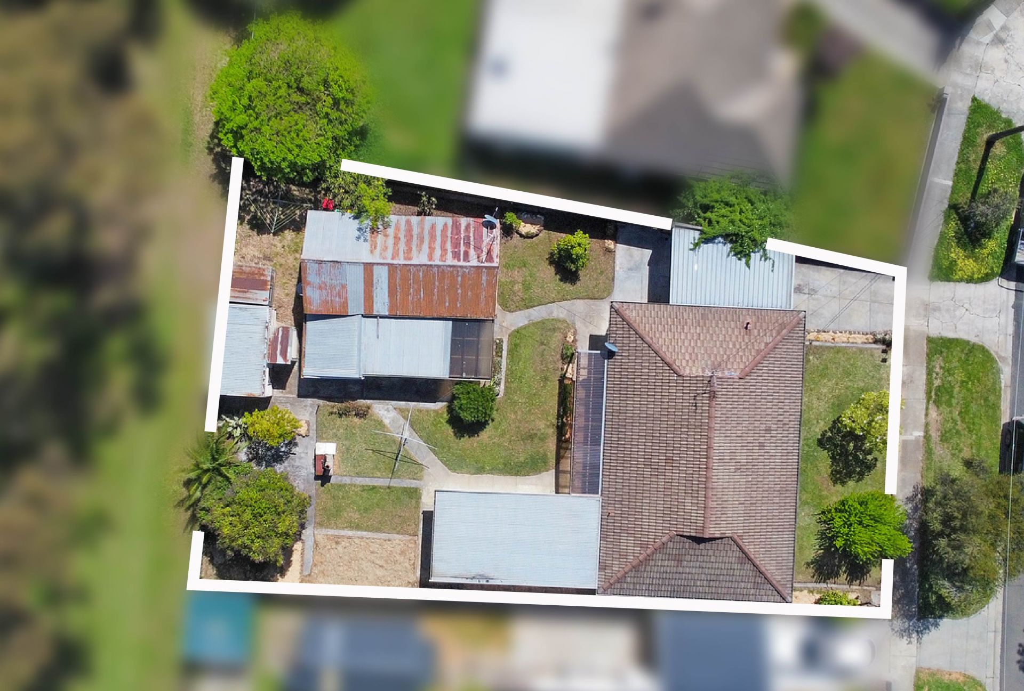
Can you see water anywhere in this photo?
No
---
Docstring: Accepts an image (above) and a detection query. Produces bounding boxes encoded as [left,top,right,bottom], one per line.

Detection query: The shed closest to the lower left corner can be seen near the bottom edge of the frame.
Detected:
[183,592,263,663]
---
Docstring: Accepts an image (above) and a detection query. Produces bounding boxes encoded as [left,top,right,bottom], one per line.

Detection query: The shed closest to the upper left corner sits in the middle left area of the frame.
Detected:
[218,265,274,306]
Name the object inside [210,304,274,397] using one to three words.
shed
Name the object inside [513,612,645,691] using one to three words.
house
